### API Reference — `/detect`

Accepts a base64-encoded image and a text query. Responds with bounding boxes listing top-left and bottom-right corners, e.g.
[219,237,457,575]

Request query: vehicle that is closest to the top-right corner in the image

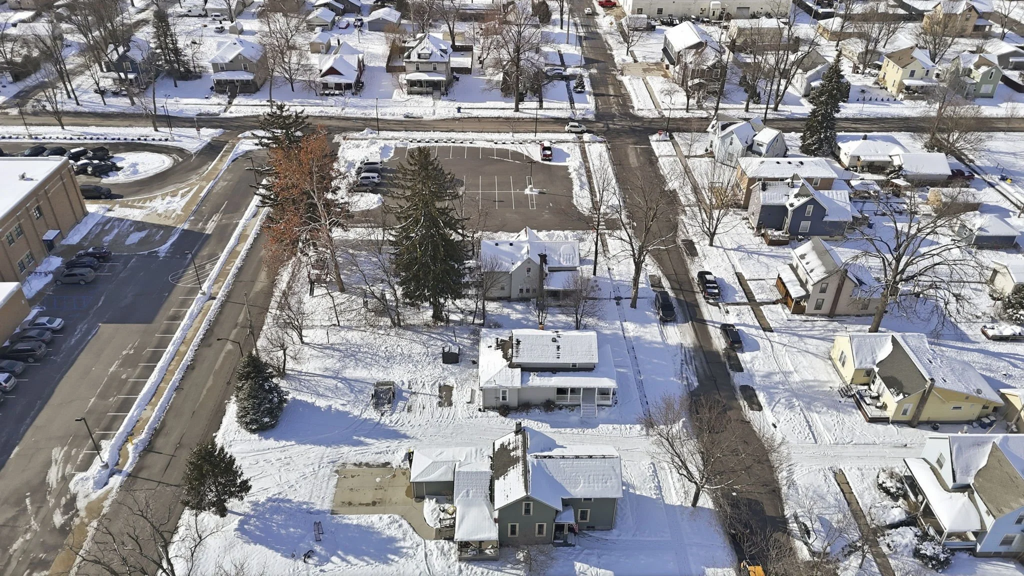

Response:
[947,166,982,182]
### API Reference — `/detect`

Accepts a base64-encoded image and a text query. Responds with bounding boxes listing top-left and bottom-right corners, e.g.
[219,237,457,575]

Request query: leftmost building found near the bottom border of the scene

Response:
[405,418,623,558]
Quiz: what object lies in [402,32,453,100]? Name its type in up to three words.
house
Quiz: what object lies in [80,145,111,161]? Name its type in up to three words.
car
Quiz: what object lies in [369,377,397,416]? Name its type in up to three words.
trailer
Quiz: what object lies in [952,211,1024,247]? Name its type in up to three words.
building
